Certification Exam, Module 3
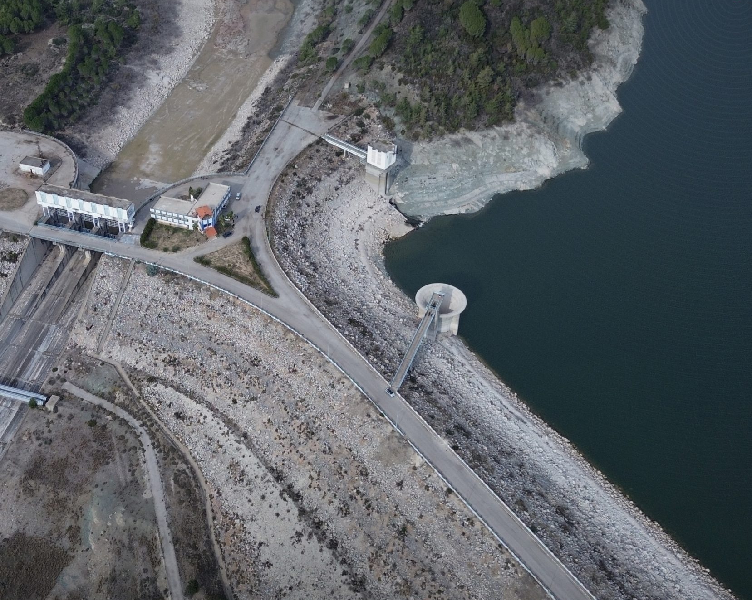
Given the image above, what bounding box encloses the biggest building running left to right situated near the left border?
[33,186,137,242]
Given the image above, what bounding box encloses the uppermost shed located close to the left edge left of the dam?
[16,154,54,177]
